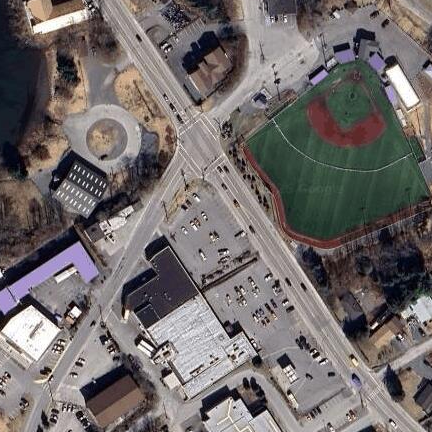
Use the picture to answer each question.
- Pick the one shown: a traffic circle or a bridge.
traffic circle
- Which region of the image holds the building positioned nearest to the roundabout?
left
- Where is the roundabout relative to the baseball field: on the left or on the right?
on its left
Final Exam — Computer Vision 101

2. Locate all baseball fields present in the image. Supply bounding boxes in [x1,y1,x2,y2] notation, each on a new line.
[242,60,432,249]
